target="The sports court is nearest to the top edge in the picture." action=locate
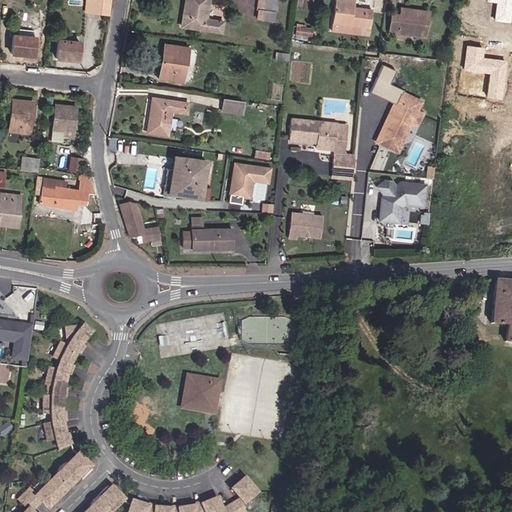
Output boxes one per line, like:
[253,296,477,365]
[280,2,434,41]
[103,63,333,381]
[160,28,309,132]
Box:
[242,316,294,344]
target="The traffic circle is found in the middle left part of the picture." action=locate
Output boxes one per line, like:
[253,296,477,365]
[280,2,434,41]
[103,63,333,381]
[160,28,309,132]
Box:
[64,241,184,330]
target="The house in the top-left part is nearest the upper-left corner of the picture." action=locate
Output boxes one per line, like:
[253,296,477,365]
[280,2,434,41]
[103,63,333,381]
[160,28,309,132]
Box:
[11,34,38,58]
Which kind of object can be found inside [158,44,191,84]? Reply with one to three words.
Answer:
house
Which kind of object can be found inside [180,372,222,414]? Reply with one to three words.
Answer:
building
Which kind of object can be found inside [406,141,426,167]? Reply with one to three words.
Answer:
swimming pool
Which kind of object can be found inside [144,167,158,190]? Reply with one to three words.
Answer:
swimming pool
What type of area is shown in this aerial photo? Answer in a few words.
residential area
